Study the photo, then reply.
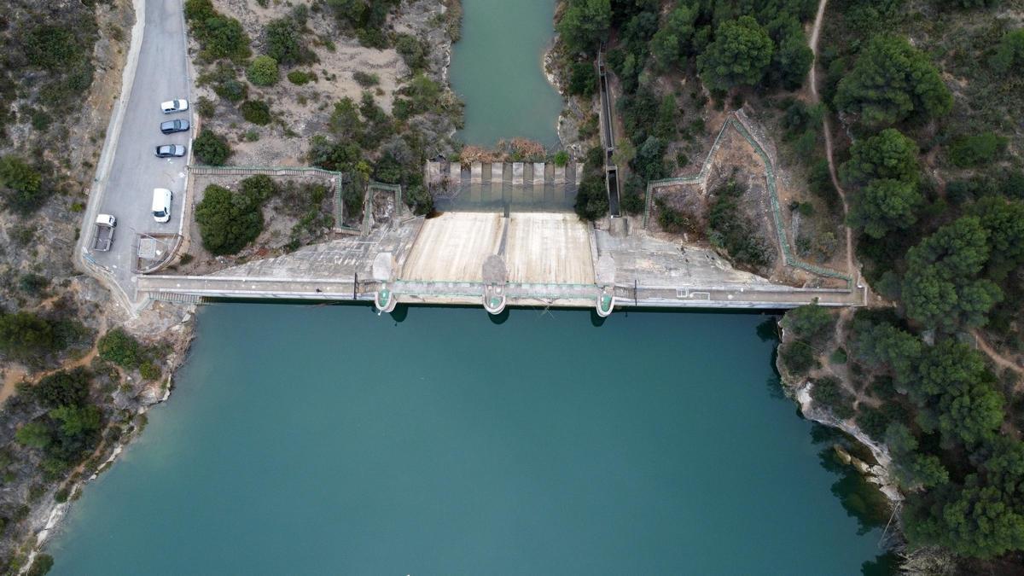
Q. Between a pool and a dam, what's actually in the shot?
dam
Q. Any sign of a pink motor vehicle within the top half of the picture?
No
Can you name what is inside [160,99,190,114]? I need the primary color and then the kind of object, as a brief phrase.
white car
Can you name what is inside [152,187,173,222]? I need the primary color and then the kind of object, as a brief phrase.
white vehicle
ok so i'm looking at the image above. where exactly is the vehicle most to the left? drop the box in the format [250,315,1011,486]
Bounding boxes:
[92,214,115,252]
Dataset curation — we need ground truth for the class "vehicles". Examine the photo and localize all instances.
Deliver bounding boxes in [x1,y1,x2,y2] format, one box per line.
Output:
[92,214,115,252]
[160,118,191,135]
[155,143,187,158]
[160,99,190,114]
[152,187,173,222]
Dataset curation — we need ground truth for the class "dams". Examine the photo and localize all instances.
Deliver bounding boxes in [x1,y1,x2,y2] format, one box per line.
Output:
[138,152,870,320]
